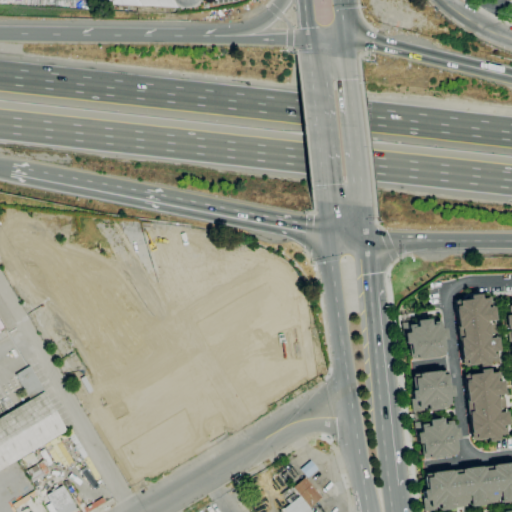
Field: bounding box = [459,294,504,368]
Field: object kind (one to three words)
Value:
building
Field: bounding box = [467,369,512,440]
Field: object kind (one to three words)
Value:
building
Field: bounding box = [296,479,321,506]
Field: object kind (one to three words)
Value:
shed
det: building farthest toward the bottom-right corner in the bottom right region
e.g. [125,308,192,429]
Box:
[424,466,512,510]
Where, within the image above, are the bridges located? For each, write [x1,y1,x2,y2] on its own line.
[297,48,378,214]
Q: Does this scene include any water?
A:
No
